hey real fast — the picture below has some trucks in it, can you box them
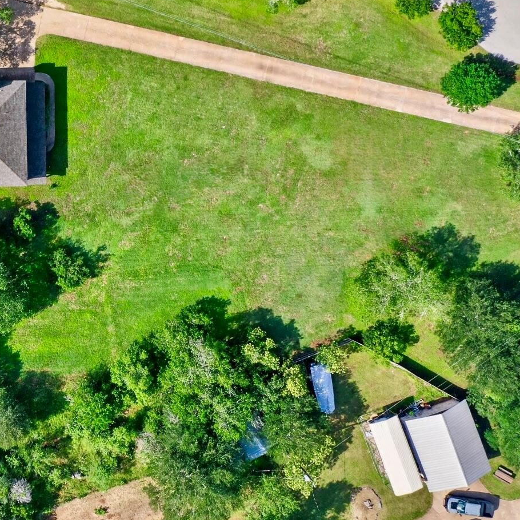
[441,495,496,520]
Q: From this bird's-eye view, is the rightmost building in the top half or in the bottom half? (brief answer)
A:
bottom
